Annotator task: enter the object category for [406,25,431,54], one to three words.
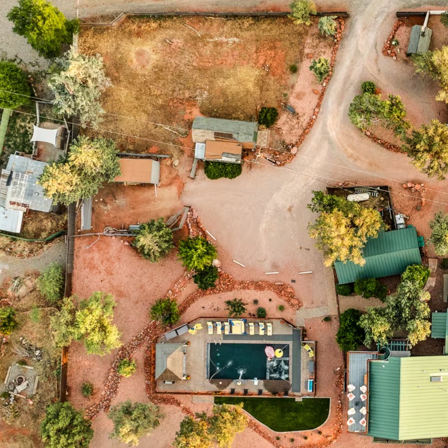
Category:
shed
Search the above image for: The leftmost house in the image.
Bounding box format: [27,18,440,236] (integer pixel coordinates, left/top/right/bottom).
[0,154,56,232]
